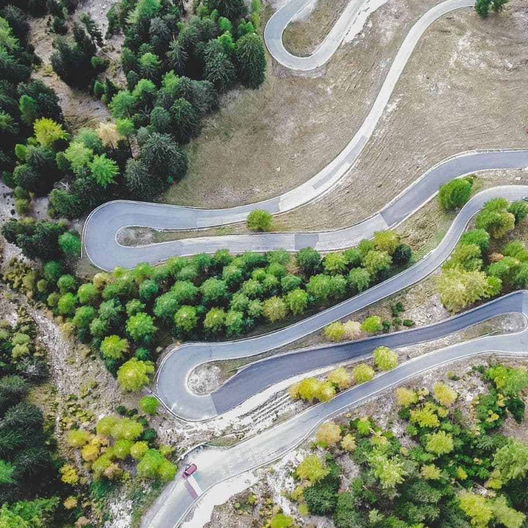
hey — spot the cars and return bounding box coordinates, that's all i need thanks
[181,464,198,481]
[523,194,528,202]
